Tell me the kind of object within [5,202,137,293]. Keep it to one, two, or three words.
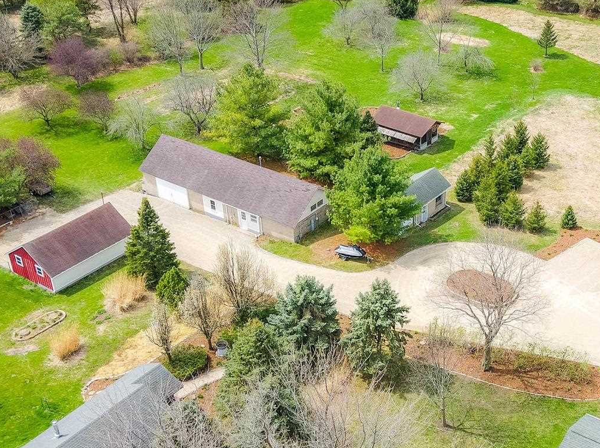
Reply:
building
